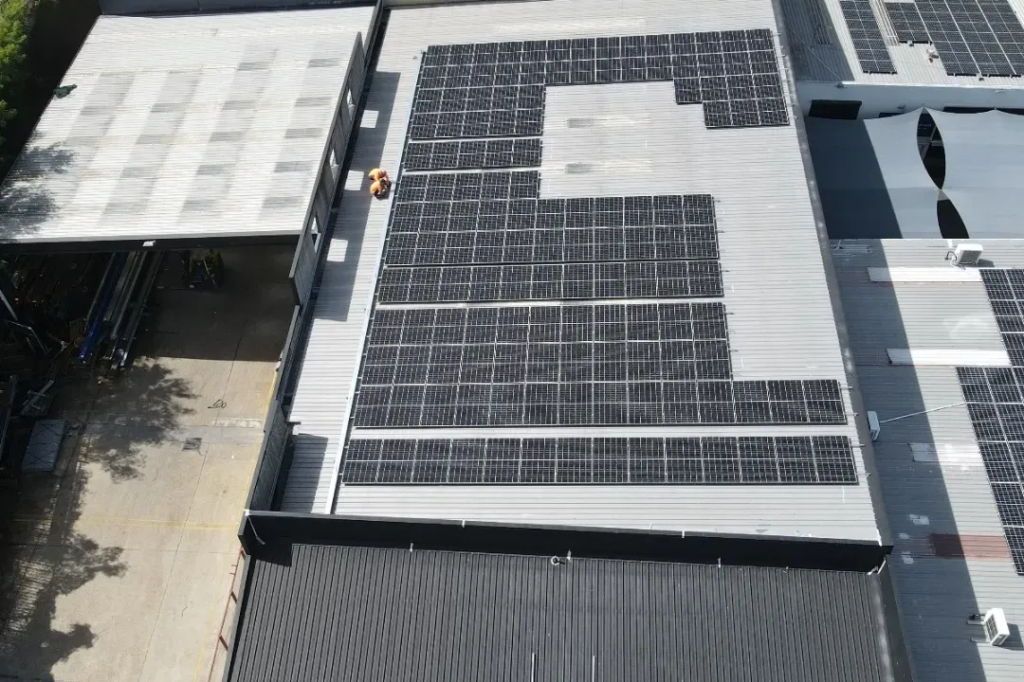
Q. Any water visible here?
No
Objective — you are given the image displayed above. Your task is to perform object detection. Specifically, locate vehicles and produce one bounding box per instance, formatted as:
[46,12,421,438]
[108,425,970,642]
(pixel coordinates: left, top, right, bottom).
[180,250,221,308]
